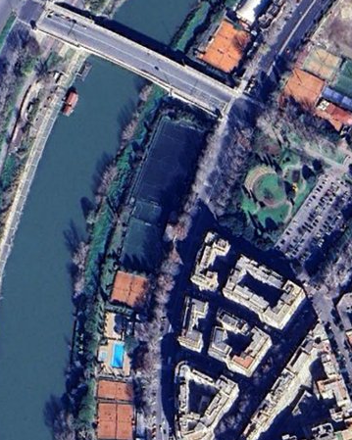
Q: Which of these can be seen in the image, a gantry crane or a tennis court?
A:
tennis court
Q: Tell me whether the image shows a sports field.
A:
Yes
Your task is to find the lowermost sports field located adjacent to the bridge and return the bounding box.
[133,118,205,214]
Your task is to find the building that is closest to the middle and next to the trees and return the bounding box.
[192,232,230,292]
